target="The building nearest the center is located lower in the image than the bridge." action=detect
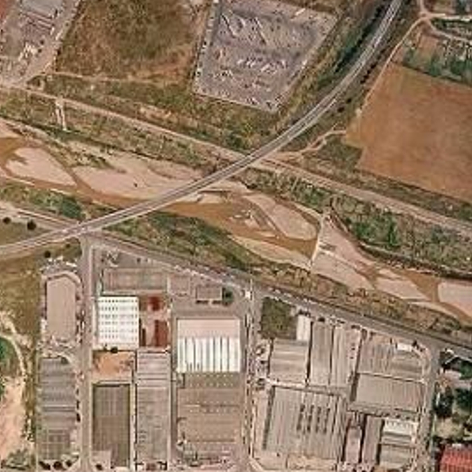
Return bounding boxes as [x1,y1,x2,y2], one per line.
[197,285,222,301]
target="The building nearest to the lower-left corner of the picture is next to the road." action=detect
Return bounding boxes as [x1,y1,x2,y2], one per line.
[39,428,70,459]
